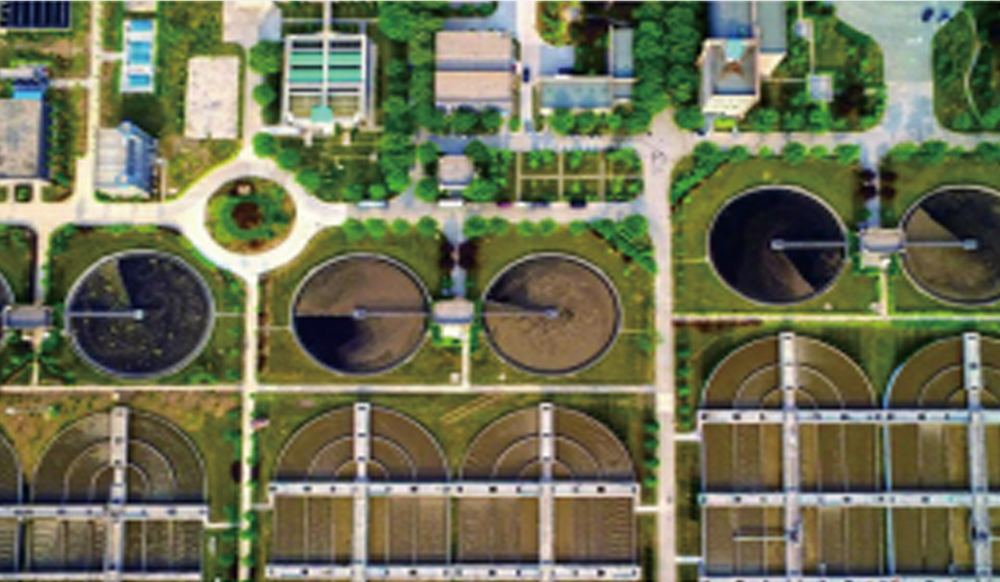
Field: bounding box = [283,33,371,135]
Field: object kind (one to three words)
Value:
building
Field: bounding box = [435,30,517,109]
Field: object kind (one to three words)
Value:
building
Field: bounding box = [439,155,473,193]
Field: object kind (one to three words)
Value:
house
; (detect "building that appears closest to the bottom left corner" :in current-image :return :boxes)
[3,306,58,328]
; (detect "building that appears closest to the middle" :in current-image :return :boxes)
[433,301,474,323]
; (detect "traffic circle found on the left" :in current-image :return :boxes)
[206,178,297,252]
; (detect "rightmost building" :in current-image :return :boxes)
[856,229,903,252]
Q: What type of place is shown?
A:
industrial area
